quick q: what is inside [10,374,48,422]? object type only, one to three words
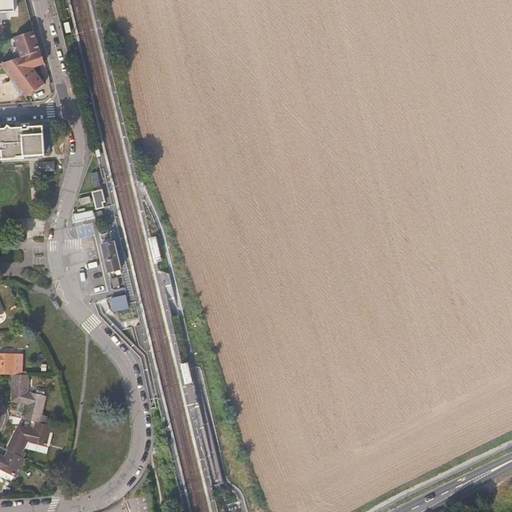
house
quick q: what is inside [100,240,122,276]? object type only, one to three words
house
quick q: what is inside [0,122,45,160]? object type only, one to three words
building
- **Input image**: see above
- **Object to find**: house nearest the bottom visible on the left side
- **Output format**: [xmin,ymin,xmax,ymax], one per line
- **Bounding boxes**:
[0,421,52,482]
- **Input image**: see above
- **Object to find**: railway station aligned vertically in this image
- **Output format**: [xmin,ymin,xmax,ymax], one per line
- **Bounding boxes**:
[88,0,219,512]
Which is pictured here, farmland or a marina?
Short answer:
farmland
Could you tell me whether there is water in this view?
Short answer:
No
